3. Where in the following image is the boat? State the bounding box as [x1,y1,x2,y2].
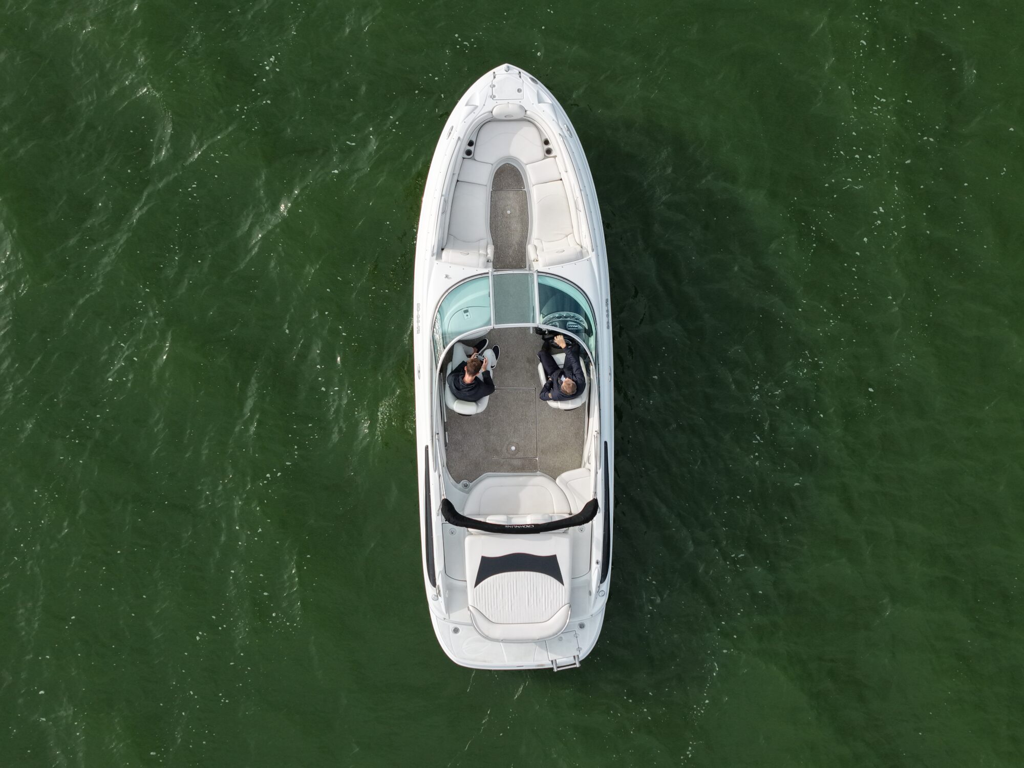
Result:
[412,63,616,672]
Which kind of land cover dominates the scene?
water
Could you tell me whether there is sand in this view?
No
